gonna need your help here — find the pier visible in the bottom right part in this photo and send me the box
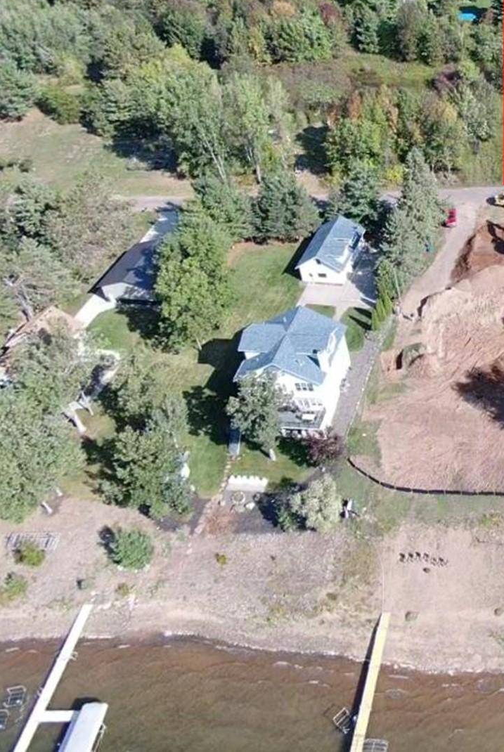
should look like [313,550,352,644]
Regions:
[352,615,392,752]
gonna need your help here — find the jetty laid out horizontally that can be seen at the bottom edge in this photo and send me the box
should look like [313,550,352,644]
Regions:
[45,710,78,724]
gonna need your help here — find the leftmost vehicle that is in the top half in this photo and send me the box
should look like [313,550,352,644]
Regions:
[445,206,458,227]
